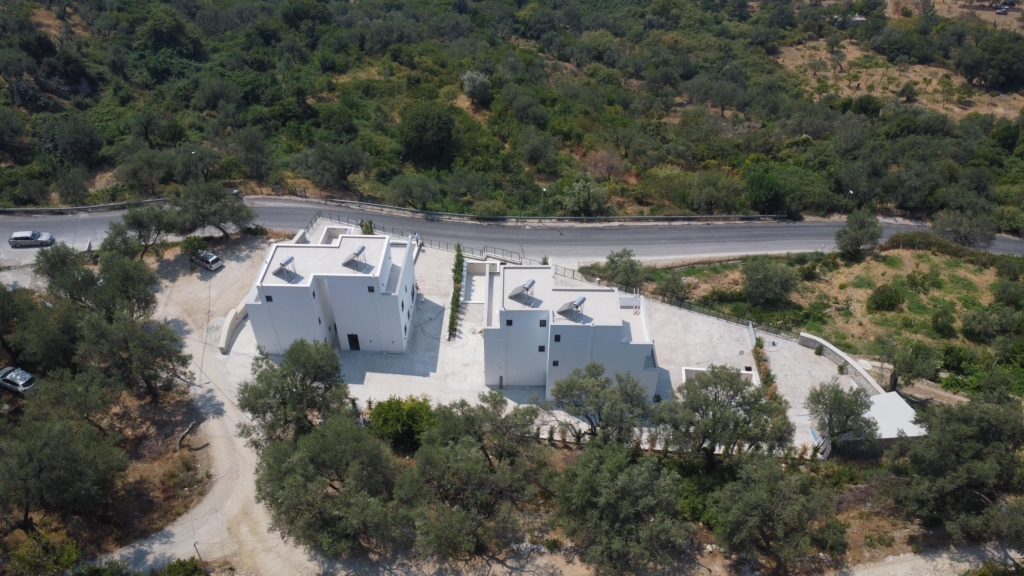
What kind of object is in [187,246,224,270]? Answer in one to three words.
car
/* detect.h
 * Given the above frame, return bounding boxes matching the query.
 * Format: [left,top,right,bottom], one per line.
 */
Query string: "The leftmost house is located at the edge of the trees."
[245,234,419,360]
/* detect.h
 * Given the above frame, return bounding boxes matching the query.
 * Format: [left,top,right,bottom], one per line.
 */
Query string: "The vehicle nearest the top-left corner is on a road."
[8,228,56,247]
